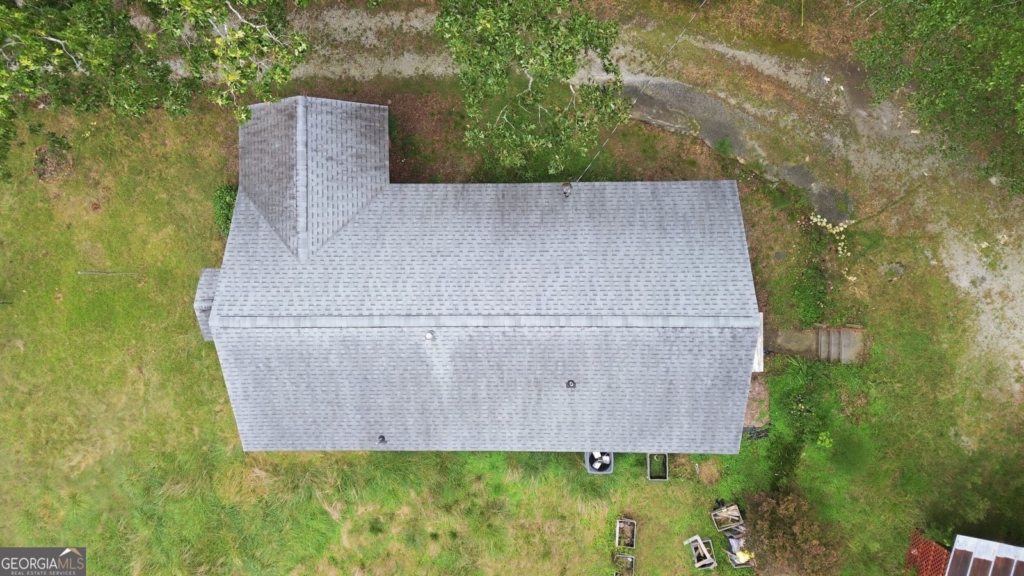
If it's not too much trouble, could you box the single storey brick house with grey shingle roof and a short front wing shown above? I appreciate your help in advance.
[194,94,764,455]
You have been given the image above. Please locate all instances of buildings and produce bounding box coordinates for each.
[194,94,764,455]
[943,532,1024,576]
